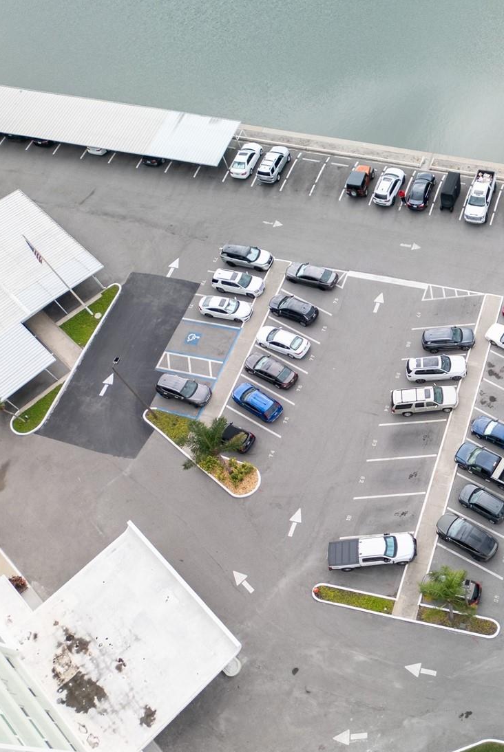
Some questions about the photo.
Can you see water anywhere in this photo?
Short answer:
Yes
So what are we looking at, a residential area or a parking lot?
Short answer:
parking lot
